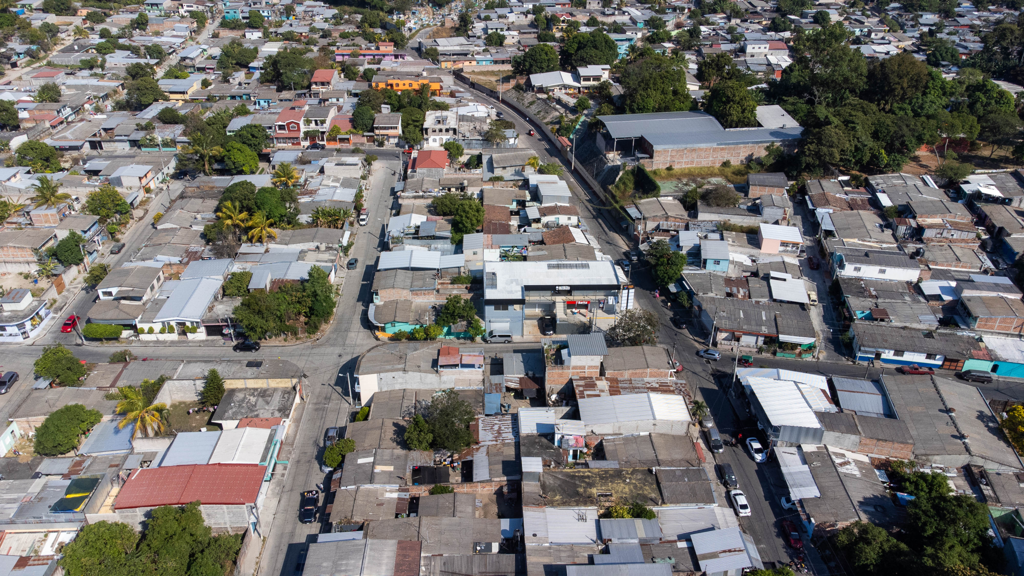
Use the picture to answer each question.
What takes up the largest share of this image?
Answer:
buildings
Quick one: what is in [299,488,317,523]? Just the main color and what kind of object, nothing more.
black vehicle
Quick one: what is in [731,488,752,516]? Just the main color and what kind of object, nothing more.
white car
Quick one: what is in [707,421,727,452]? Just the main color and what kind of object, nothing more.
gray car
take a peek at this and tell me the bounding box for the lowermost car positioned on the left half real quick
[294,533,315,569]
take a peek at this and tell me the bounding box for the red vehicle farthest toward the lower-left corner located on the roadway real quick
[61,314,78,331]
